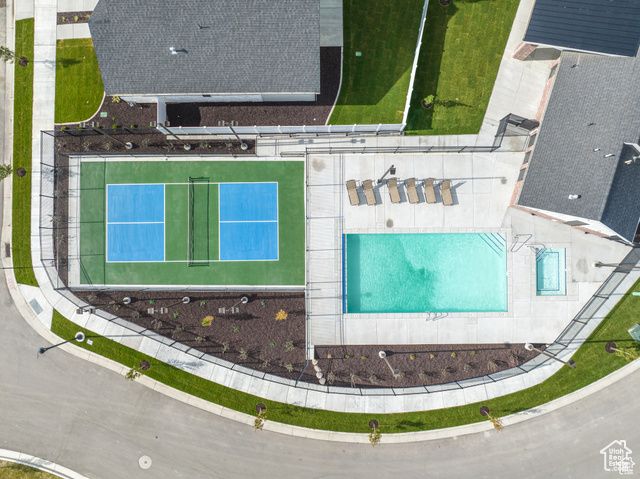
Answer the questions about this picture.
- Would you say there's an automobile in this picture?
No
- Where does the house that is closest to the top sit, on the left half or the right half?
left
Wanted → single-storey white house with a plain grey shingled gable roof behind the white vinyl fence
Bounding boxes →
[91,0,321,103]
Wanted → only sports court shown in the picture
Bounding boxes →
[69,155,306,291]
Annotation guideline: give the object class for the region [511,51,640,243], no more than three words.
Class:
building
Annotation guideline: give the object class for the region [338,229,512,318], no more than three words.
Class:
swimming pool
